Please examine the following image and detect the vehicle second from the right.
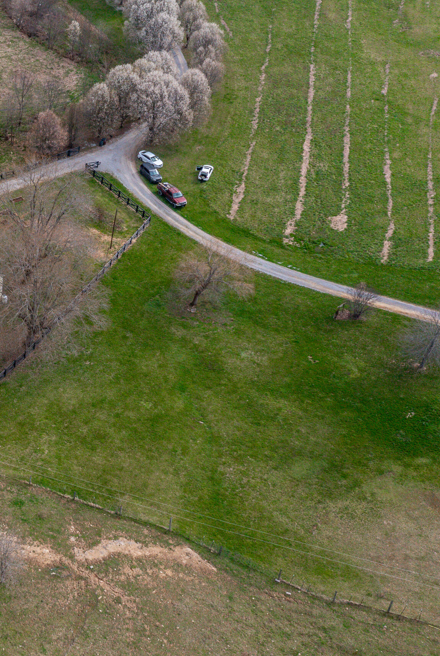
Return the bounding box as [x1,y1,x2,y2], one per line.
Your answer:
[157,184,189,209]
